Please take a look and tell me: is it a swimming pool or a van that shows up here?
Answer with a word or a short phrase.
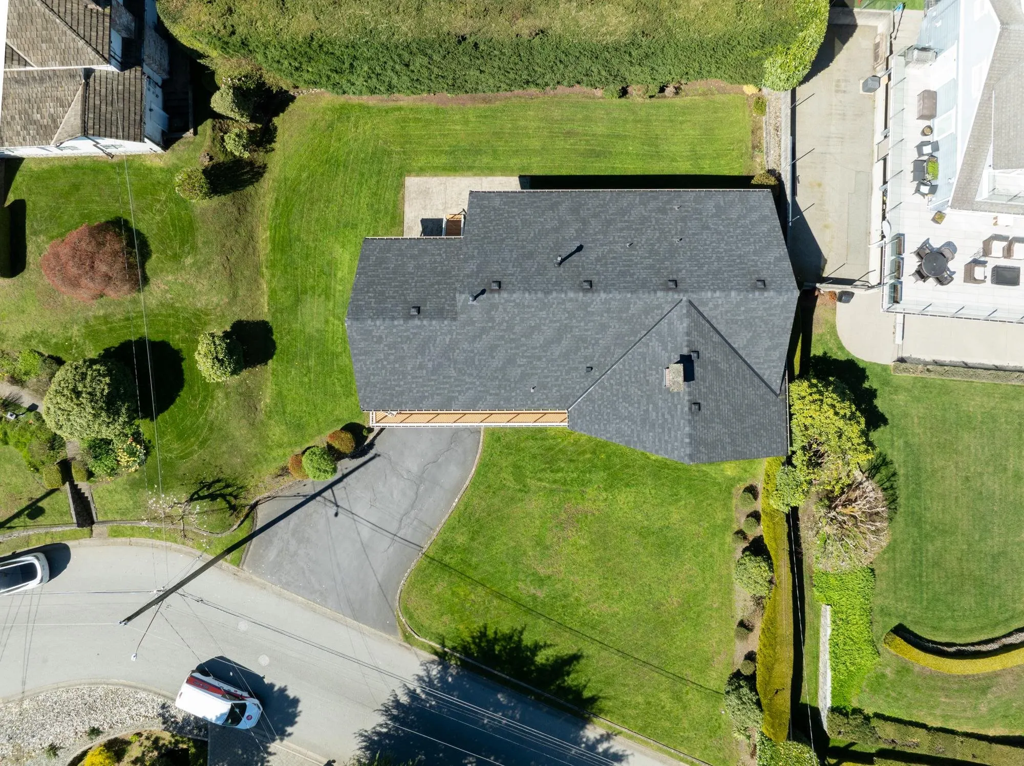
van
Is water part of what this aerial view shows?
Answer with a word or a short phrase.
No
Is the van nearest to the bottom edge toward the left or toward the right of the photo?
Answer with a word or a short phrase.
left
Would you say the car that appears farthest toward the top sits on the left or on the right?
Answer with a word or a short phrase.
left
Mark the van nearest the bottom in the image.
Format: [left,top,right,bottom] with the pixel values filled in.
[174,672,260,725]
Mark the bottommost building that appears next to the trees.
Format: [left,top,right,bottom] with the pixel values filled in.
[346,188,799,464]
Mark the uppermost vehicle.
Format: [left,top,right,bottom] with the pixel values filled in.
[0,559,54,604]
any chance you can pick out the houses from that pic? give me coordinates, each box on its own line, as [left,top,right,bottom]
[879,0,1024,327]
[0,0,164,159]
[346,188,799,464]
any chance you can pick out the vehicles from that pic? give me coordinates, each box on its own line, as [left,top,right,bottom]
[174,672,260,725]
[0,559,54,604]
